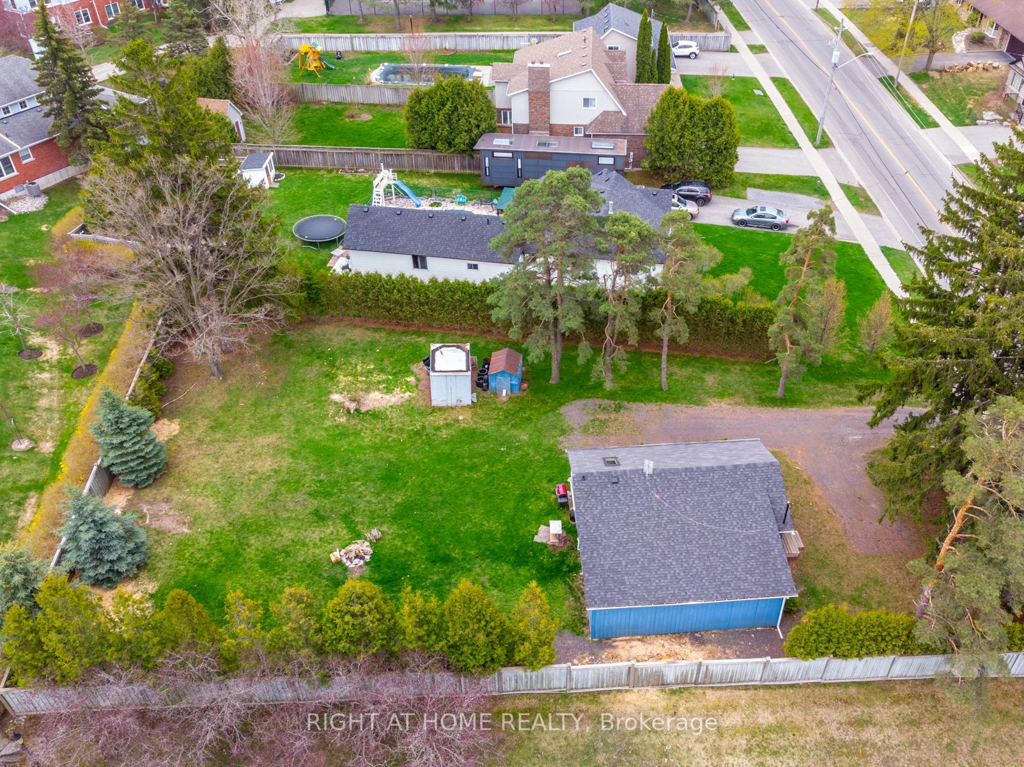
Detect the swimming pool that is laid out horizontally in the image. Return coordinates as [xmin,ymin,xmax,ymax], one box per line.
[366,64,504,84]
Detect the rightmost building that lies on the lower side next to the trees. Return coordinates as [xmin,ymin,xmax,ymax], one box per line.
[568,440,801,639]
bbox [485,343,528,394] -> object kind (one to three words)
shed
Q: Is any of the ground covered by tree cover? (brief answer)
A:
Yes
